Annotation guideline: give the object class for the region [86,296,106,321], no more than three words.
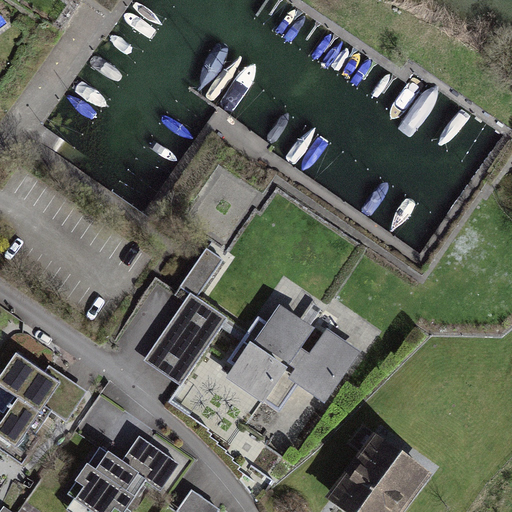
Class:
car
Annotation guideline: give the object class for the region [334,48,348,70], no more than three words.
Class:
boat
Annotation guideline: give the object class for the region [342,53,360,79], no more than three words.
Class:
boat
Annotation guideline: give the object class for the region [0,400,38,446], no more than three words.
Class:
house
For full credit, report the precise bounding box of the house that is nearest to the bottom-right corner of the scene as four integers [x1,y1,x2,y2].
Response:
[316,432,432,512]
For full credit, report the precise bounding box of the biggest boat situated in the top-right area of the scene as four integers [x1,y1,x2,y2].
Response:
[401,85,438,136]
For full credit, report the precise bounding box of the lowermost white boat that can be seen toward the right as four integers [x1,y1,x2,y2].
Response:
[392,198,417,232]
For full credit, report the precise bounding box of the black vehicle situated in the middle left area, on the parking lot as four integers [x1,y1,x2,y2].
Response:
[122,244,140,266]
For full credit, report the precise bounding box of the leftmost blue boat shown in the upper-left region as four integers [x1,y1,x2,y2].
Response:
[67,96,98,120]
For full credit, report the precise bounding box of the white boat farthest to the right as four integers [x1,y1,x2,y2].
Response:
[441,109,470,144]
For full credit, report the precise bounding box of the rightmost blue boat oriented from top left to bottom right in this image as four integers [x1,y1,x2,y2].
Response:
[160,114,193,139]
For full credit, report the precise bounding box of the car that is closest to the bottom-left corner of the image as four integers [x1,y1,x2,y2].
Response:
[33,329,52,346]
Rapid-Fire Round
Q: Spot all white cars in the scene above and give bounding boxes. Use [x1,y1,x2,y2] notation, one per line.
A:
[86,296,106,321]
[33,329,52,346]
[4,237,24,261]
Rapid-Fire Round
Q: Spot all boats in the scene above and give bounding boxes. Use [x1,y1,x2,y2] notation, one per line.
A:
[110,36,134,54]
[90,58,122,80]
[222,64,256,112]
[392,76,421,119]
[67,96,98,120]
[199,44,230,90]
[133,2,162,25]
[124,14,156,42]
[366,182,388,214]
[342,53,360,79]
[285,16,304,43]
[372,74,390,98]
[304,136,328,170]
[72,82,108,106]
[274,10,296,36]
[325,42,342,68]
[352,60,370,86]
[270,114,289,141]
[160,114,193,139]
[334,48,348,70]
[288,128,316,164]
[208,56,240,100]
[441,109,470,144]
[310,34,330,60]
[392,198,417,232]
[150,142,177,160]
[401,85,438,136]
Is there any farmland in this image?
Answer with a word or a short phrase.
No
